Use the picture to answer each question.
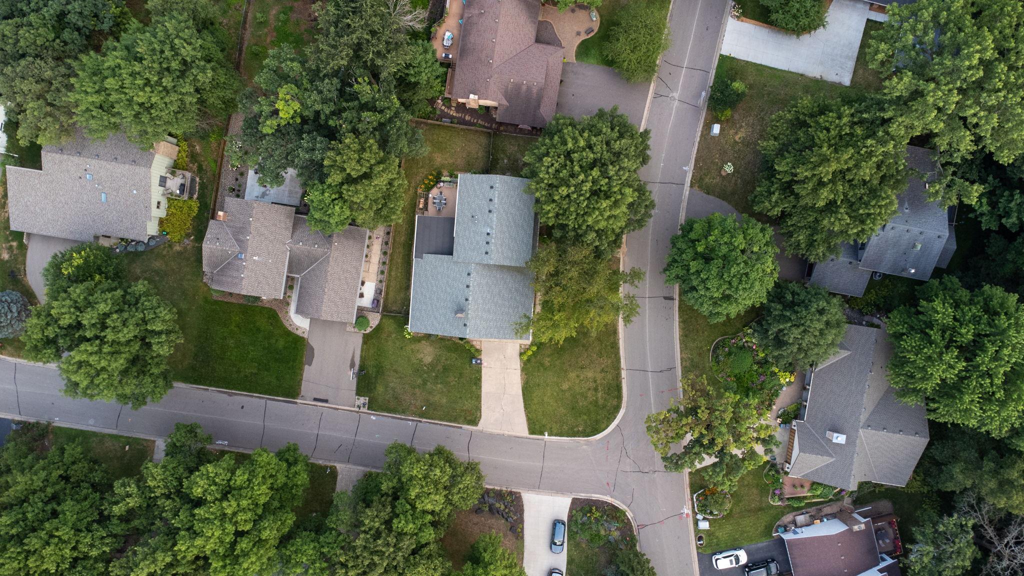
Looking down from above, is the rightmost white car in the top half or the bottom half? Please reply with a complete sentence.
The rightmost white car is in the bottom half of the image.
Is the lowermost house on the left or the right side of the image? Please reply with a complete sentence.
You can find the lowermost house on the right side of the picture.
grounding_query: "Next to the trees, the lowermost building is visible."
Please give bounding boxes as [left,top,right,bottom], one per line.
[772,506,908,576]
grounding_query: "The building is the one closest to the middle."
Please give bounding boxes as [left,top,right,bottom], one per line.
[406,174,536,344]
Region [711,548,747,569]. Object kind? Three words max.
car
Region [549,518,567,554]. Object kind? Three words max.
car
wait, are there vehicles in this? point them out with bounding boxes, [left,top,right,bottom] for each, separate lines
[549,565,564,576]
[711,548,747,569]
[549,518,567,554]
[738,559,779,576]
